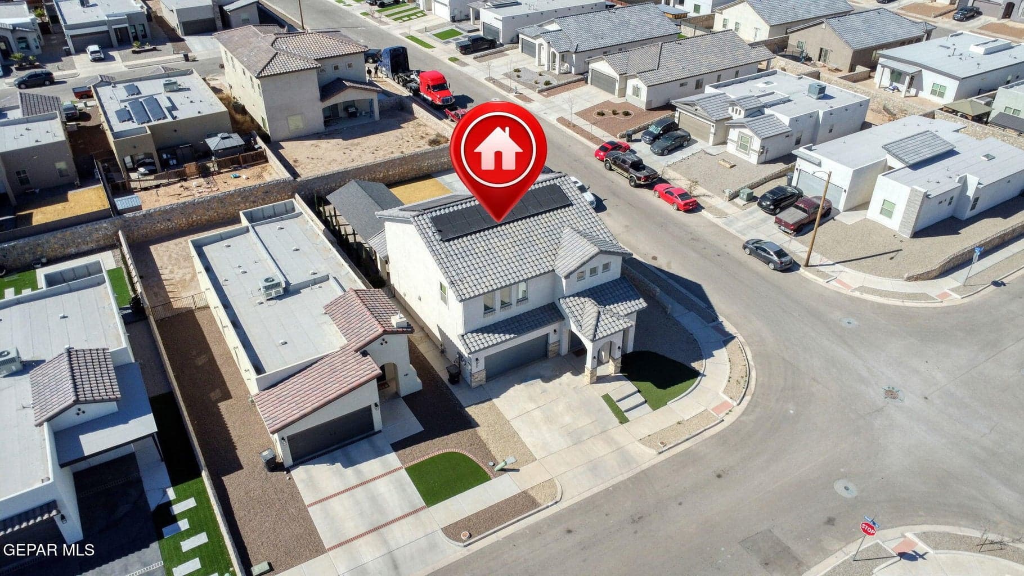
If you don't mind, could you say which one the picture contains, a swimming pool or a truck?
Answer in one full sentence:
The one in the frame is a truck.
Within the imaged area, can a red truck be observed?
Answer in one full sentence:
Yes, you can see a red truck in this photo.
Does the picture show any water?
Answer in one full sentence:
No, the scene doesn't show any water.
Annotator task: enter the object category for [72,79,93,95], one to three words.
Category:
vehicle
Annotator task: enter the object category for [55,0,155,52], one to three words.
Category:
house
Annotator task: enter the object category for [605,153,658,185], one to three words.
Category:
truck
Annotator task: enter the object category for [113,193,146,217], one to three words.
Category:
shed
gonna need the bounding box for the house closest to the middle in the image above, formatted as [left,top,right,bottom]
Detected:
[374,176,649,388]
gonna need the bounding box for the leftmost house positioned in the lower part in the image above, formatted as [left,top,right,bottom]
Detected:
[0,257,169,573]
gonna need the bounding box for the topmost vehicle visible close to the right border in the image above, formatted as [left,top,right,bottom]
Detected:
[949,2,977,18]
